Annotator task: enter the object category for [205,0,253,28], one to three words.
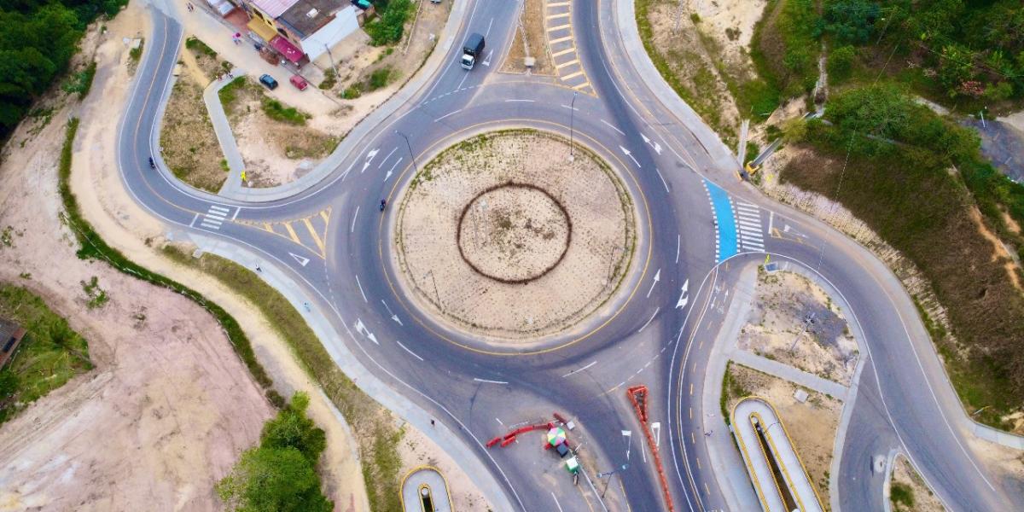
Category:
house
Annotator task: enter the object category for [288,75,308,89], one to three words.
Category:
car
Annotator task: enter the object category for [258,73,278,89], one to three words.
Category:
car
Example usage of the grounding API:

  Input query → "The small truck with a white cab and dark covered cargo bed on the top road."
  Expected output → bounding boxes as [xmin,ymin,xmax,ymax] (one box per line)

[461,33,487,68]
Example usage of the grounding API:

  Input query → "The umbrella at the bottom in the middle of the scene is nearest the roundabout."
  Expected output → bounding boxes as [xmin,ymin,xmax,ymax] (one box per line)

[547,428,565,446]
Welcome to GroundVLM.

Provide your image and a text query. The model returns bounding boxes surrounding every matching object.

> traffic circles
[339,89,696,395]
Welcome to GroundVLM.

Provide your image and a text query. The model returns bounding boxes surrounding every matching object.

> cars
[288,75,308,89]
[258,73,278,89]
